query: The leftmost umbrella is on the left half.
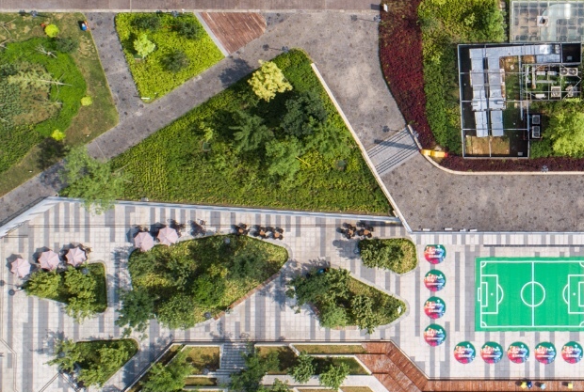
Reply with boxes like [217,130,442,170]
[10,257,36,278]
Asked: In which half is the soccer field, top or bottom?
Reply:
bottom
